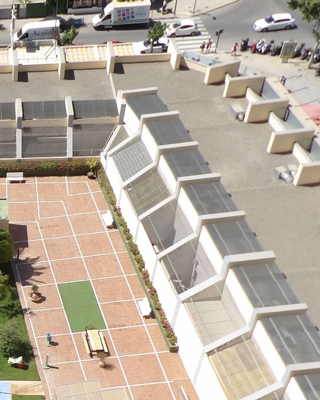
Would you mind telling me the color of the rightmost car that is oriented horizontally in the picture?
white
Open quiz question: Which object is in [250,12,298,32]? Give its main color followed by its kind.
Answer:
white car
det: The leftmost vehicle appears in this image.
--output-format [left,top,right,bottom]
[12,18,63,46]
